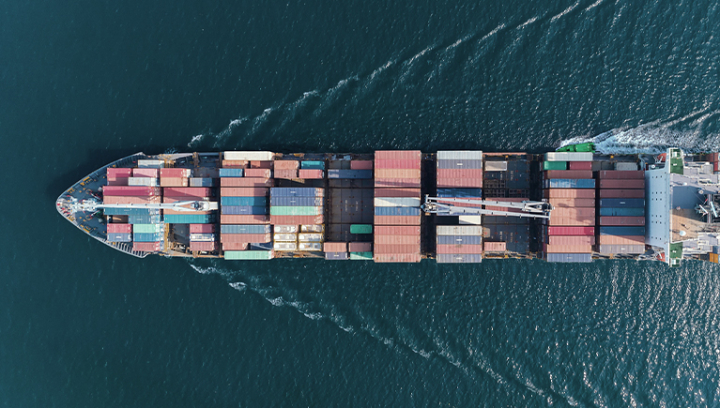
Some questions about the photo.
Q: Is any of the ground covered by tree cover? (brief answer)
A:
No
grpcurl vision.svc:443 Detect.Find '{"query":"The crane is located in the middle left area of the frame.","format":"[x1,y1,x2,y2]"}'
[94,198,221,214]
